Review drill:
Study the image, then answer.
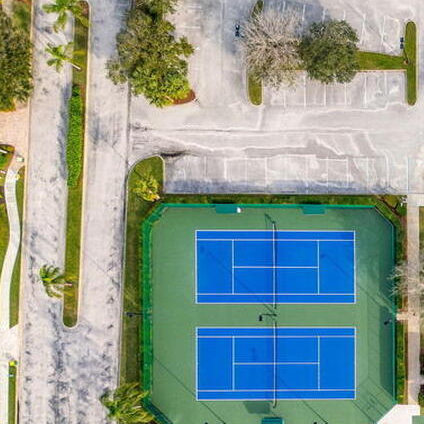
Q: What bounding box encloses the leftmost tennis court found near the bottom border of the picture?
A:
[196,322,355,407]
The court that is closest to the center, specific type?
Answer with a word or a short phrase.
tennis court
